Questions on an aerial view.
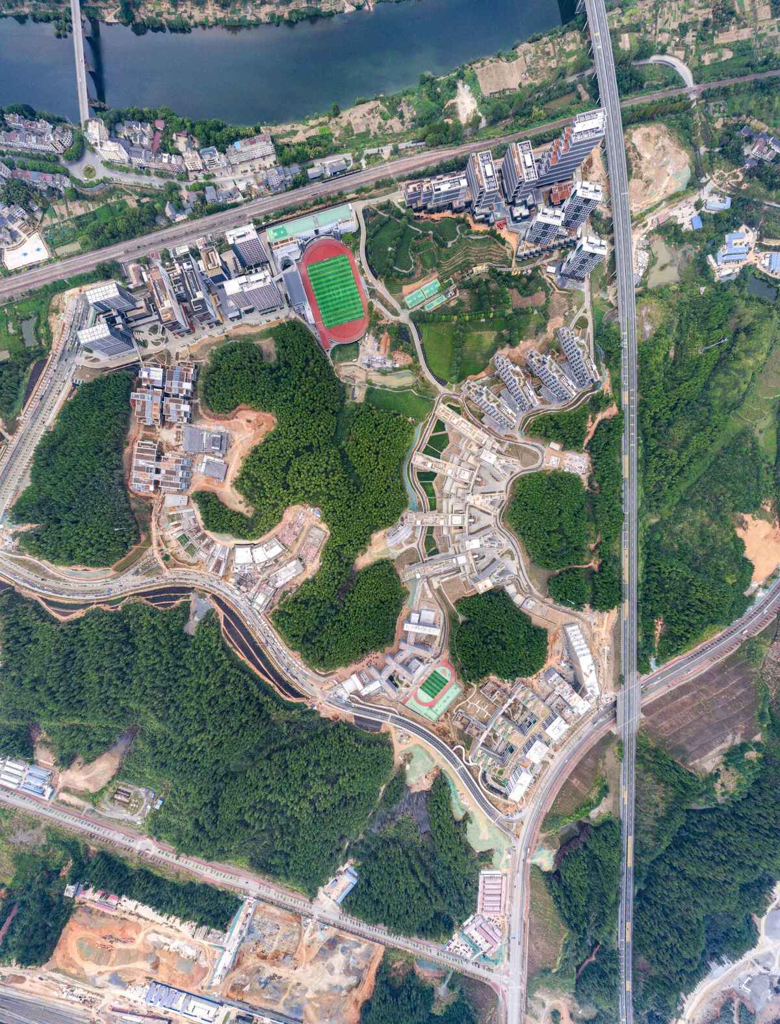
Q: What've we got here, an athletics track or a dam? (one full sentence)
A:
Visible in the photo is an athletics track.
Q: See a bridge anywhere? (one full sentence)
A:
Yes, the frame does contain a bridge.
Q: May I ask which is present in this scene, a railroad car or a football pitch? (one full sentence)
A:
The one in the frame is a football pitch.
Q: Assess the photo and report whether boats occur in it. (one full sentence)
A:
No, I can see no boat in this picture.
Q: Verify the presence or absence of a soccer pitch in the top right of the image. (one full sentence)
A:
No, there's no soccer pitch to be seen in the top right of the image.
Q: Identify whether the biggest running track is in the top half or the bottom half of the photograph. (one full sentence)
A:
Seen from above, the biggest running track lies in the top half of the view.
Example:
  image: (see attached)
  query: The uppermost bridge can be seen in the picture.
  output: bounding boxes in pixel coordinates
[71,0,101,128]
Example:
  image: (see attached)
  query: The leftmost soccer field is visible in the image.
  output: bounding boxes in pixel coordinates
[307,254,364,328]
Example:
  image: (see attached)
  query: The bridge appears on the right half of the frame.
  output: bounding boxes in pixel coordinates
[566,0,642,1024]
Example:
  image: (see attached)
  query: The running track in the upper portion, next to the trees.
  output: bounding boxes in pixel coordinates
[298,239,372,346]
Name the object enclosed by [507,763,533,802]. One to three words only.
building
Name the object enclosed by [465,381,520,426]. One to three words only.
building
